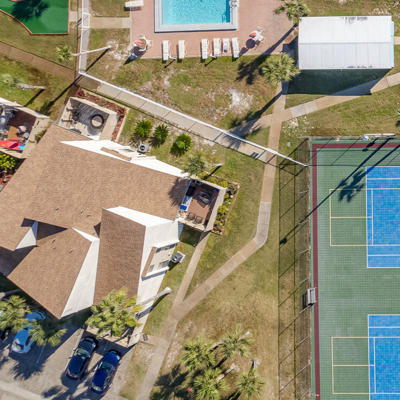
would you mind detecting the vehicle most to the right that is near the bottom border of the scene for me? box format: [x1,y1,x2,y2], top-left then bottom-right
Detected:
[91,351,123,395]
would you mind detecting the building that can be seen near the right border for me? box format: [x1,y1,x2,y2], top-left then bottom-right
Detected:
[298,16,394,70]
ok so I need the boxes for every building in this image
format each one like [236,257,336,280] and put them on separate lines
[0,123,200,319]
[298,16,394,70]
